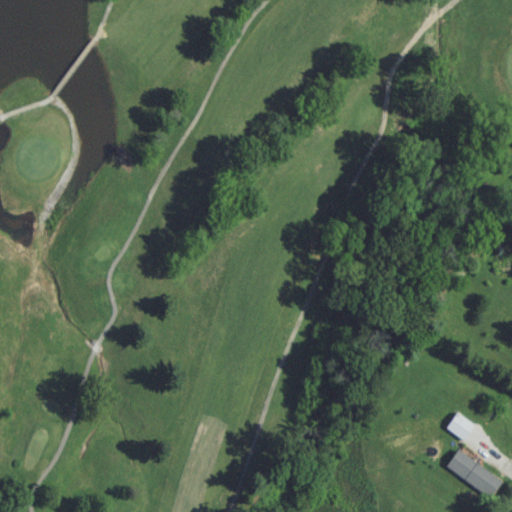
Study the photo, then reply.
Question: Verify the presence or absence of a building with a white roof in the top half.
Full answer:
No, there's no building with a white roof to be seen in the top half.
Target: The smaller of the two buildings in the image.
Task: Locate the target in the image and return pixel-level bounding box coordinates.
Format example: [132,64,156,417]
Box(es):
[446,412,474,440]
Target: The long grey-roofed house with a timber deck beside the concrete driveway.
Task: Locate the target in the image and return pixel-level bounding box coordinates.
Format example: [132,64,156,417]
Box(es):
[448,450,504,495]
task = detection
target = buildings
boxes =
[446,412,474,440]
[448,450,504,495]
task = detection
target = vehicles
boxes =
[480,442,490,449]
[480,450,490,458]
[490,450,501,459]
